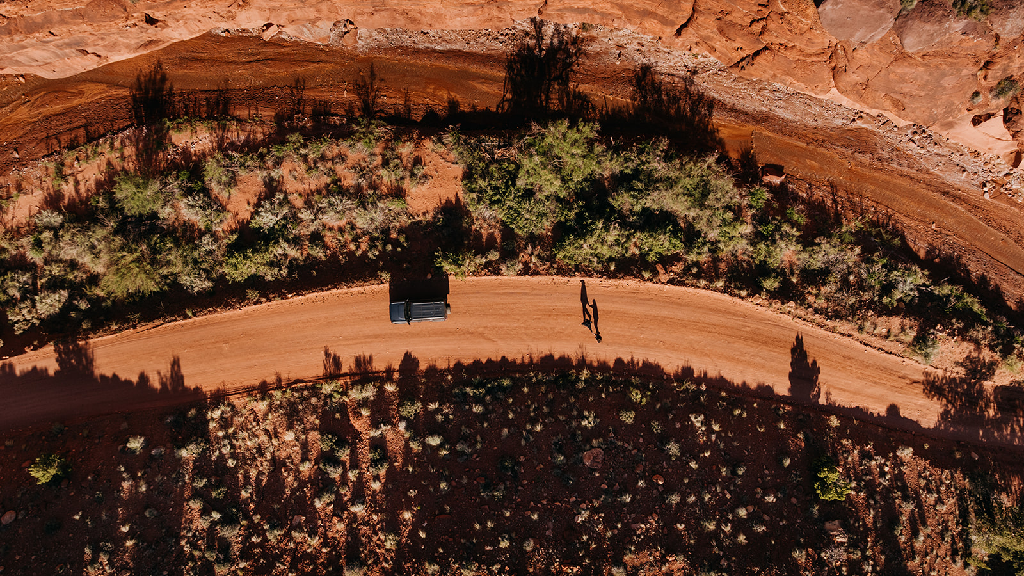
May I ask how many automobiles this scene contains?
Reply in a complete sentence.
Only 1 automobile is visible.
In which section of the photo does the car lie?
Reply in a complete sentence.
The car appears toward the center of the photo.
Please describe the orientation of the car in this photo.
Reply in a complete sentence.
In this picture, the car lies from side to side.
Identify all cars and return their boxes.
[390,297,452,326]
